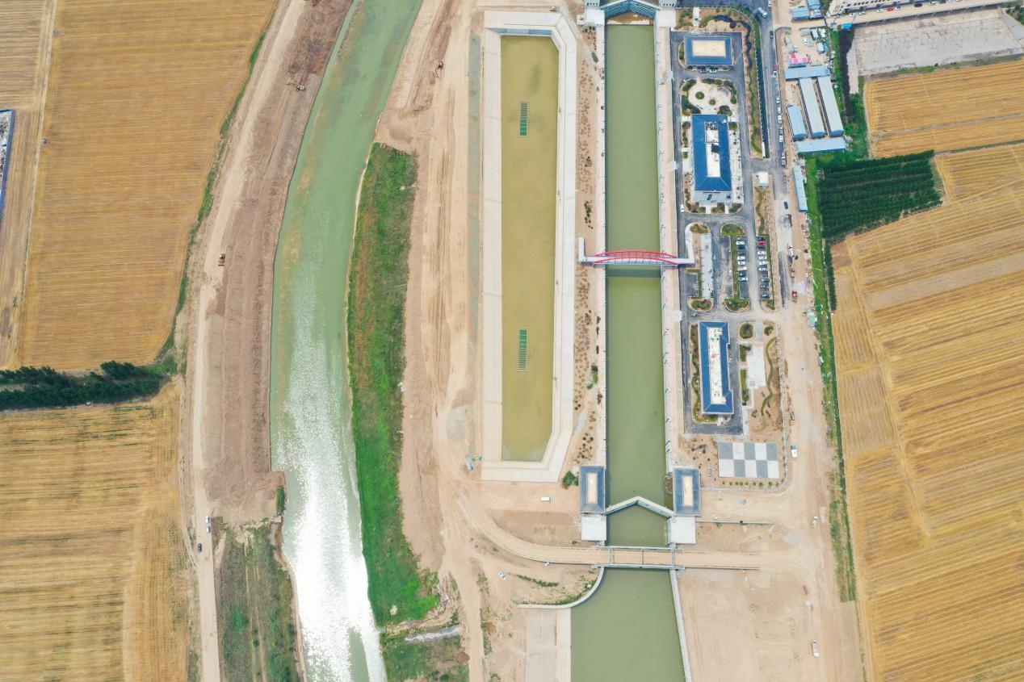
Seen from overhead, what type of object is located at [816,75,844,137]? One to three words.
shed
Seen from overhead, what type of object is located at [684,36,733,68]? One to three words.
building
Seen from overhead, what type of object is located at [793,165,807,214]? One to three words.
shed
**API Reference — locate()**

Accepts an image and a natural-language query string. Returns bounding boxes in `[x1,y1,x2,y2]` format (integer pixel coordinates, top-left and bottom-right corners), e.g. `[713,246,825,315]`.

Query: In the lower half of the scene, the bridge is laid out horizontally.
[593,546,685,570]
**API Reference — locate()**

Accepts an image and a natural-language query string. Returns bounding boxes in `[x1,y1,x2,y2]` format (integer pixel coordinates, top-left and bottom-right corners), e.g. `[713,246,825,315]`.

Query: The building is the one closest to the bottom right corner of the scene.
[673,468,702,516]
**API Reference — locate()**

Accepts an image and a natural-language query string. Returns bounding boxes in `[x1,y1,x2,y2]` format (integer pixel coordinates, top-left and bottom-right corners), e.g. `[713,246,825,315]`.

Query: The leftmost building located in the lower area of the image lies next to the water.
[579,466,606,513]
